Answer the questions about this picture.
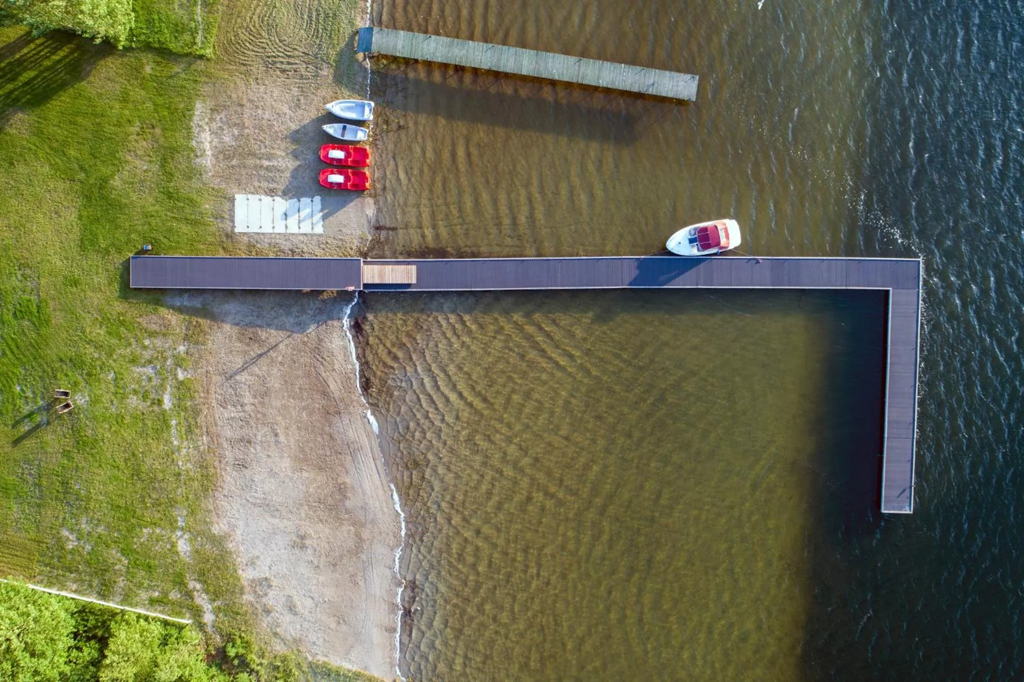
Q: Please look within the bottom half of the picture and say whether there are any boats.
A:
No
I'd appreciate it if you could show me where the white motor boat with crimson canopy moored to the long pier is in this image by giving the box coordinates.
[665,219,741,256]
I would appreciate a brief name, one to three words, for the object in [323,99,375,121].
boat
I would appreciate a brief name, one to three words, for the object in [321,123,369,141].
boat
